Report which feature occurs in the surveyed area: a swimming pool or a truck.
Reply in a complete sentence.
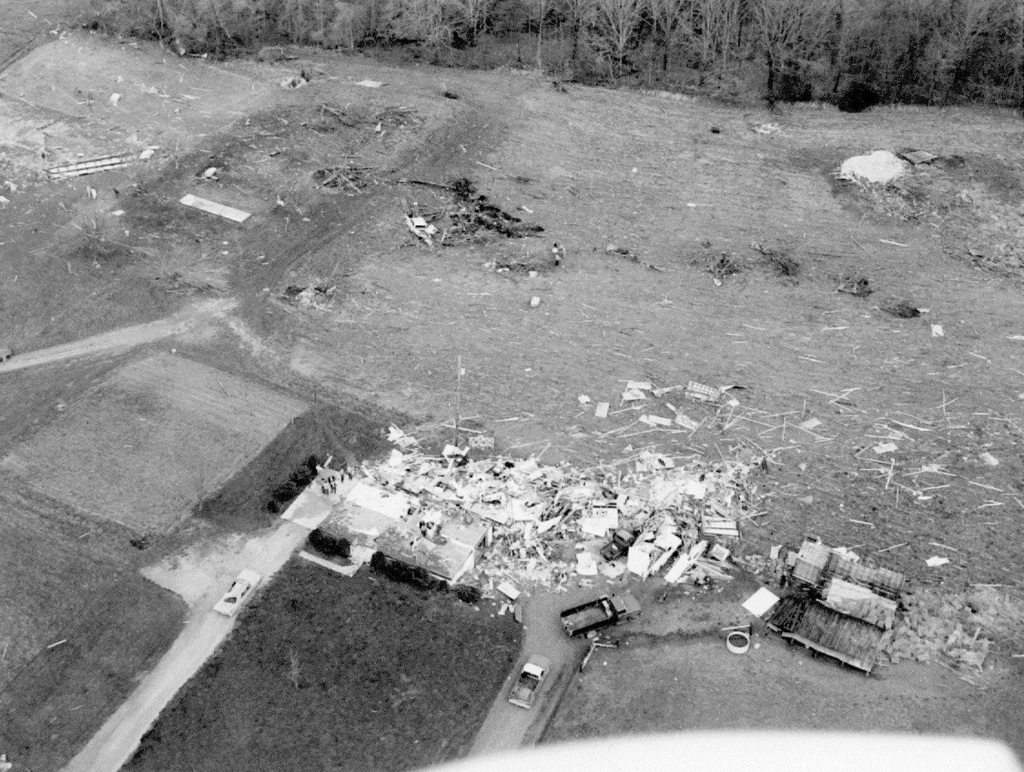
Looking from above, you can make out a truck.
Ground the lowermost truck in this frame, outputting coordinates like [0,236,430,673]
[509,652,553,710]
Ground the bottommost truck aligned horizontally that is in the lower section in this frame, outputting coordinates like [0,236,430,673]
[558,593,645,640]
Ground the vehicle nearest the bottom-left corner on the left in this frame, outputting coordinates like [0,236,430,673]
[211,567,264,620]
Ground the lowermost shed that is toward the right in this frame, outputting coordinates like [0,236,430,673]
[767,594,888,678]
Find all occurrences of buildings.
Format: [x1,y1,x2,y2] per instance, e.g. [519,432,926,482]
[311,472,504,596]
[792,534,833,583]
[767,594,888,678]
